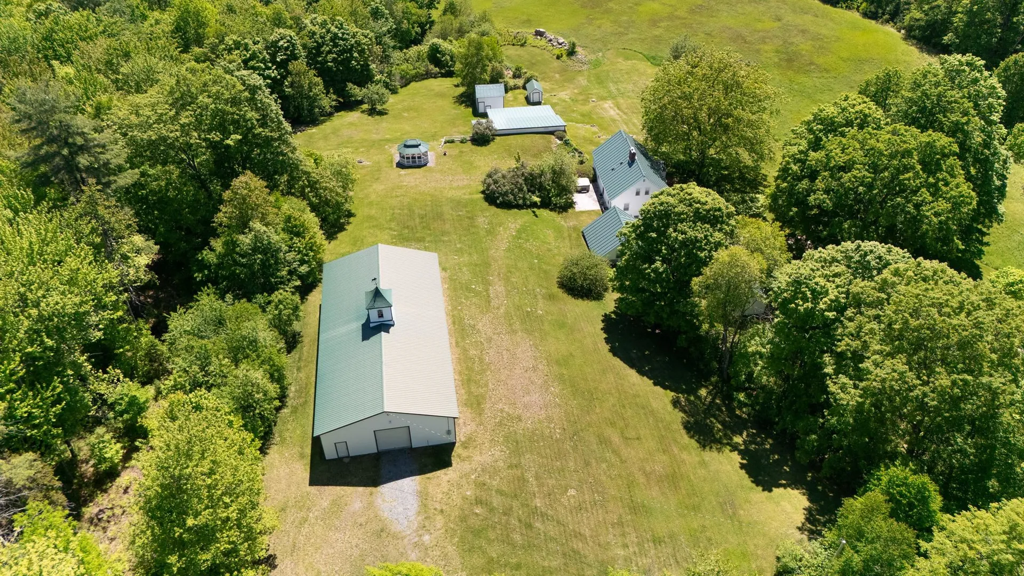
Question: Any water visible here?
No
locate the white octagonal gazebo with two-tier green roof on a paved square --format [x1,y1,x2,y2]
[394,136,432,166]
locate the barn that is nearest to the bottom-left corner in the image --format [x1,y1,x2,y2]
[315,243,458,460]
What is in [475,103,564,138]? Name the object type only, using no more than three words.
shed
